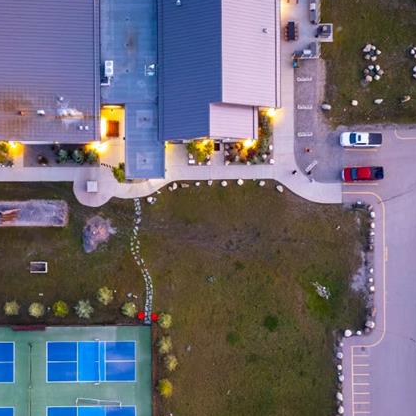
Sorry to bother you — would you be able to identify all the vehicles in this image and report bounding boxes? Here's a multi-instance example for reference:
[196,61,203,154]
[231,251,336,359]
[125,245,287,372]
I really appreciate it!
[341,166,383,182]
[339,131,381,148]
